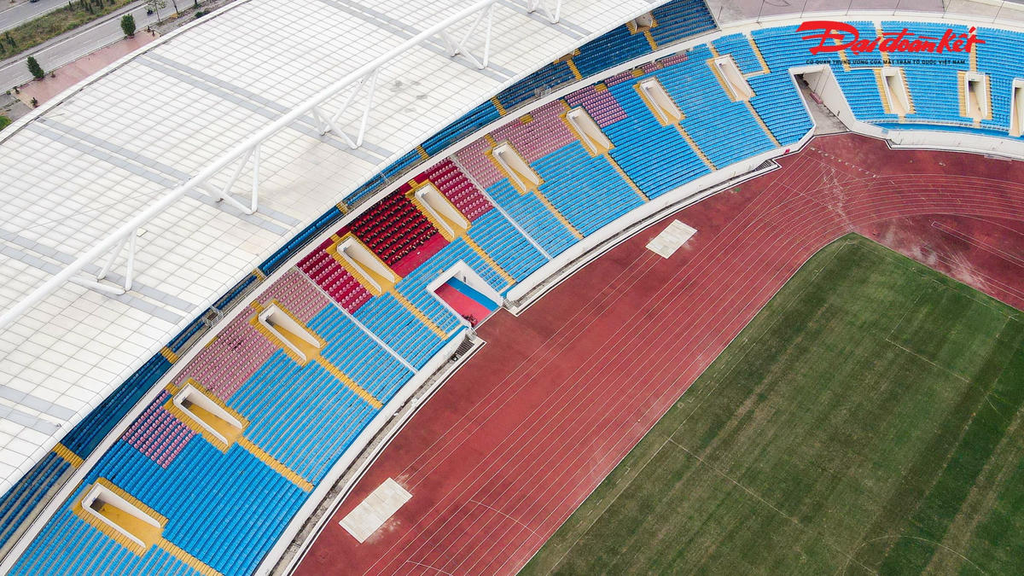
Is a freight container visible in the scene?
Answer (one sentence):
No, no freight container is visible in the scene.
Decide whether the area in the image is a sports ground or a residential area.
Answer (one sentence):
The area seen from above is a sports ground.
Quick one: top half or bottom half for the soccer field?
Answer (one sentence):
The soccer field sits in the bottom half of the picture.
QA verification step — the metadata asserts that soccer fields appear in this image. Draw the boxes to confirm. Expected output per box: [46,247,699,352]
[519,232,1024,576]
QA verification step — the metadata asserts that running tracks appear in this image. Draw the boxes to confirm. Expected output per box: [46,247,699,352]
[281,134,1024,576]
